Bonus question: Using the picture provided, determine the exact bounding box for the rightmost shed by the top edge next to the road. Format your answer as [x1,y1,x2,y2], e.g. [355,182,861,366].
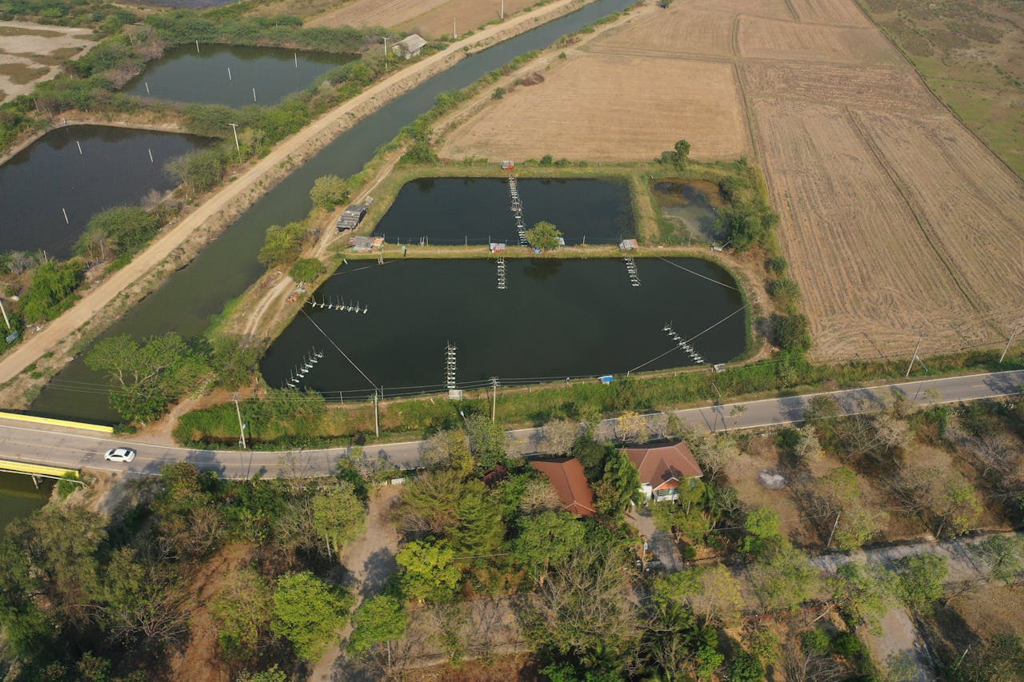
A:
[391,34,427,59]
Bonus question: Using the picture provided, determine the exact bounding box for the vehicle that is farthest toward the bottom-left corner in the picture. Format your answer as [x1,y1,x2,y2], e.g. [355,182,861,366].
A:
[103,449,136,465]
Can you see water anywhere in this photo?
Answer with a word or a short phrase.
Yes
